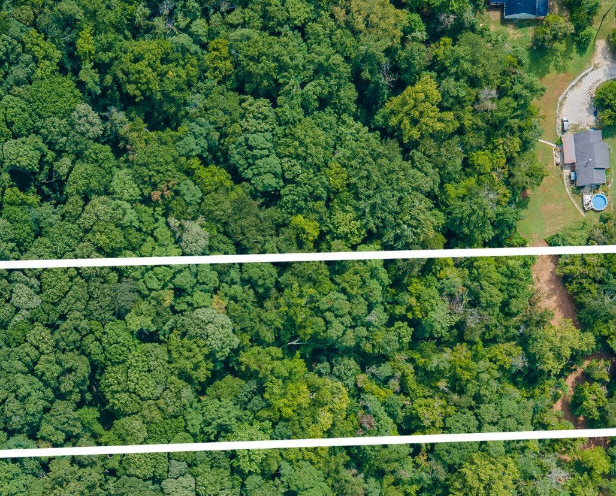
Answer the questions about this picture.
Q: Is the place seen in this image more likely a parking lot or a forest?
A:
forest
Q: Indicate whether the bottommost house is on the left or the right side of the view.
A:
right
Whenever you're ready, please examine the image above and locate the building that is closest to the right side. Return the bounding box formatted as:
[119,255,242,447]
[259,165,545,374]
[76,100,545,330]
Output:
[562,131,610,187]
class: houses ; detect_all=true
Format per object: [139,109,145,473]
[497,0,549,20]
[562,131,610,187]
